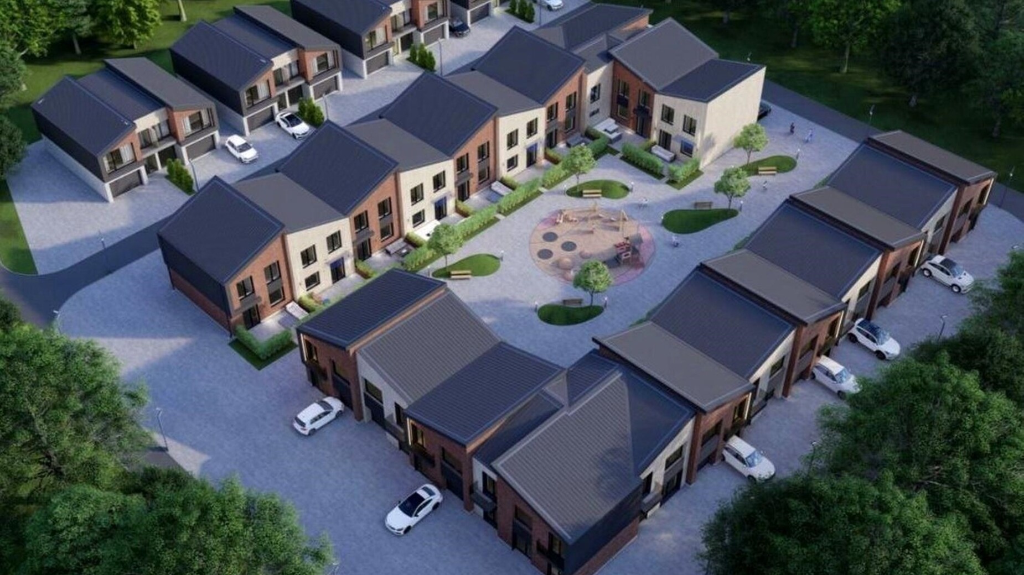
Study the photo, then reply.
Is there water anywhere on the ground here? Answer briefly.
No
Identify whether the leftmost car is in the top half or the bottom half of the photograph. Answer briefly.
top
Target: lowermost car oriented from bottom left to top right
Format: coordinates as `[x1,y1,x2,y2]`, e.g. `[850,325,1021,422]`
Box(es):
[382,486,445,537]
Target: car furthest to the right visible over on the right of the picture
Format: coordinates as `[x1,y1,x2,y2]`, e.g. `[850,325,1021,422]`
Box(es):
[922,255,977,294]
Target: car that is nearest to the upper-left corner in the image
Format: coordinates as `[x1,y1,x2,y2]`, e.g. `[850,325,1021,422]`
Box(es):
[220,130,260,162]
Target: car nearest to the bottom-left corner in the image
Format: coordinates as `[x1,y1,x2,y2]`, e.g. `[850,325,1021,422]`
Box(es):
[287,398,344,438]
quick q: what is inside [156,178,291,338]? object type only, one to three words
house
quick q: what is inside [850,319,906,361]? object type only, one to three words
car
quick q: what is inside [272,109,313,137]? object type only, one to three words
car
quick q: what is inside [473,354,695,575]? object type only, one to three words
house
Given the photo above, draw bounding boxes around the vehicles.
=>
[850,319,906,361]
[287,398,344,438]
[754,101,777,123]
[382,486,445,537]
[922,255,977,294]
[446,14,476,38]
[220,130,260,162]
[272,109,313,137]
[811,357,866,397]
[721,437,780,484]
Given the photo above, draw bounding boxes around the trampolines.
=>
[542,231,558,241]
[561,239,577,250]
[538,248,555,258]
